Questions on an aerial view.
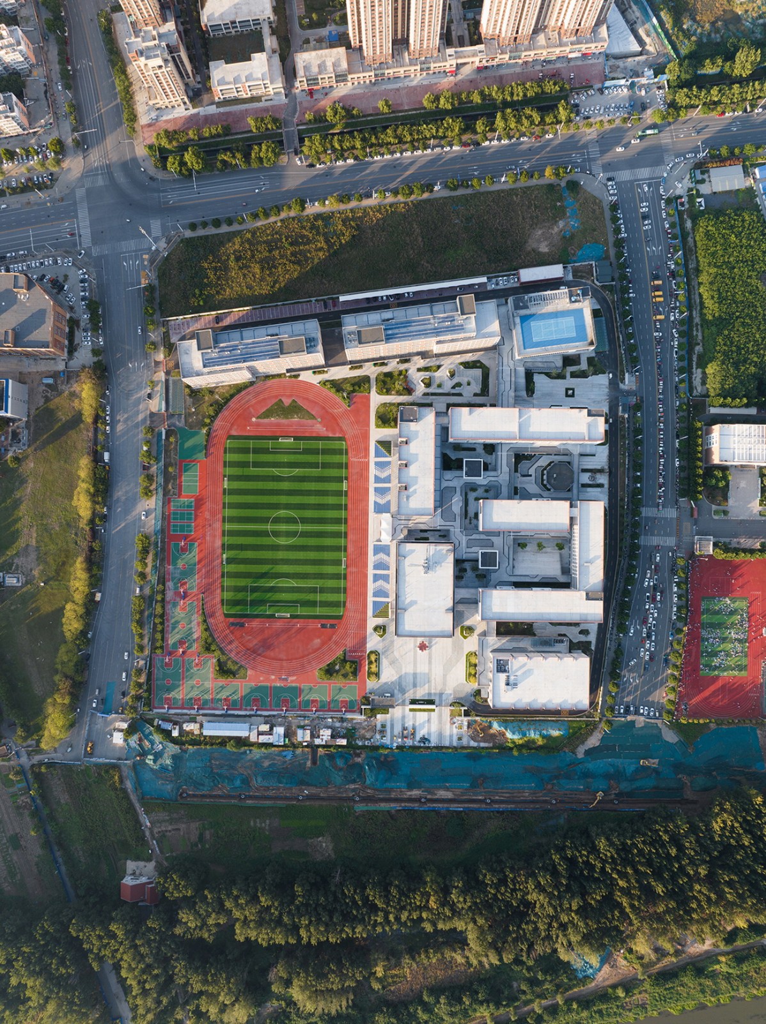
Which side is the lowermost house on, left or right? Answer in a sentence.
The lowermost house is on the left side of the image.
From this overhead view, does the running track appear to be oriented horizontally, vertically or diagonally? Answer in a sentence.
I'd say the running track is aligned vertically in the picture.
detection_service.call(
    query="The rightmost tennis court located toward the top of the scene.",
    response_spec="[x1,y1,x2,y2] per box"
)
[519,309,588,350]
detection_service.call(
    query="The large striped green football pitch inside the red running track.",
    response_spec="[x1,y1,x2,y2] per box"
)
[222,436,348,620]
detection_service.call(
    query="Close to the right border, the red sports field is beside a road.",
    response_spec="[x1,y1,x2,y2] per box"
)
[676,557,766,720]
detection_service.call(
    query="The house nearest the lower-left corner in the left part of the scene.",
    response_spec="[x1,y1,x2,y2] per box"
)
[121,874,161,901]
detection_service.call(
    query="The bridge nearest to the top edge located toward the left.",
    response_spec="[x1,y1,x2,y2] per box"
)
[283,121,298,165]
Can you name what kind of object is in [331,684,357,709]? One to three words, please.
basketball court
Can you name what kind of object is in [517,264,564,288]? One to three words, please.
building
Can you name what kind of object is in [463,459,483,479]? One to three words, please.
building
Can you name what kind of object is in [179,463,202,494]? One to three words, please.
sports court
